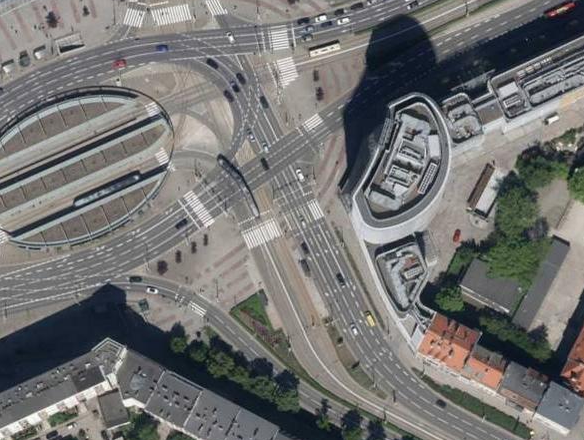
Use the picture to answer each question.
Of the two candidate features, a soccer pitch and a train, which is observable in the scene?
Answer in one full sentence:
There is a train in the scene.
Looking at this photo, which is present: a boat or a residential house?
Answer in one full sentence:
It is a residential house that can be seen here.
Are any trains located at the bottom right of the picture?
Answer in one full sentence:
No, I can find no train at the bottom right of the picture.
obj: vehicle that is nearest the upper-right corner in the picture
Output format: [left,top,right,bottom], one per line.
[545,1,577,19]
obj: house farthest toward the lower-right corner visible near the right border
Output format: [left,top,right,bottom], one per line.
[534,381,584,434]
